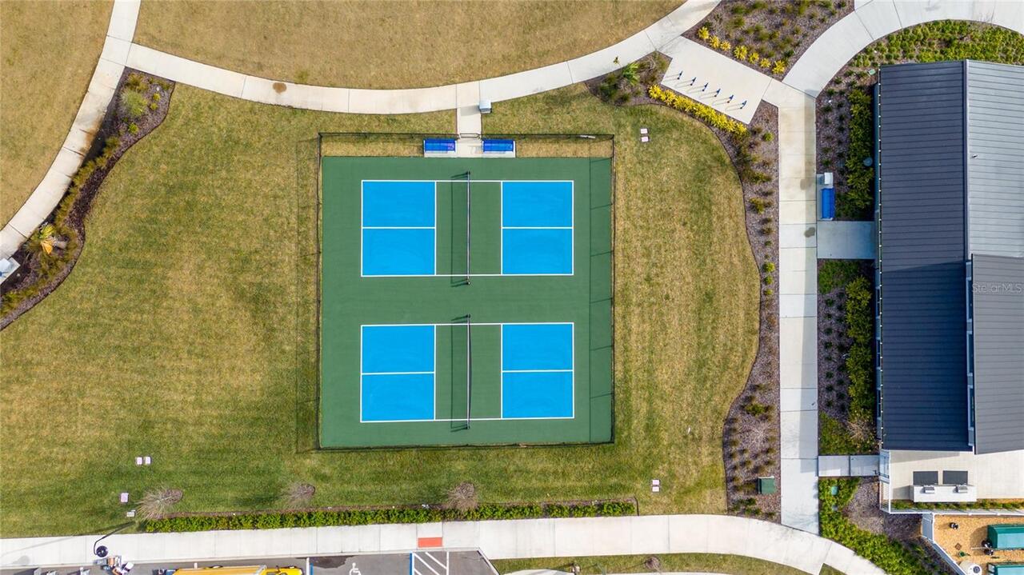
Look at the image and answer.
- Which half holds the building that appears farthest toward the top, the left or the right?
right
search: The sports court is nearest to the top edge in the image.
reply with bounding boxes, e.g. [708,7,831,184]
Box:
[361,180,574,277]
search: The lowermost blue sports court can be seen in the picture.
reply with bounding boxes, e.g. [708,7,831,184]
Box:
[361,323,575,422]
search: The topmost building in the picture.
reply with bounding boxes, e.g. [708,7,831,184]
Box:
[872,62,1024,460]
